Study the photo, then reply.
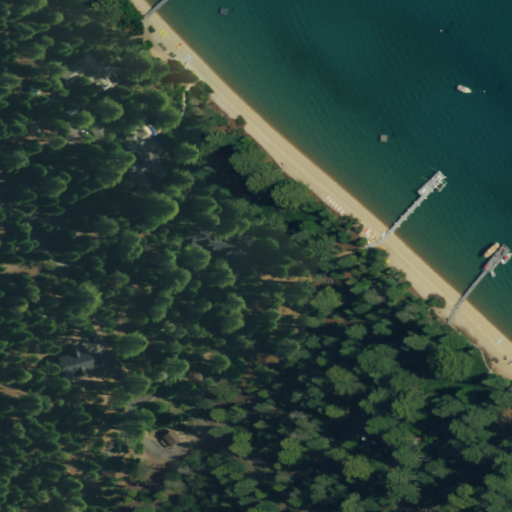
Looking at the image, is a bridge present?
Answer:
No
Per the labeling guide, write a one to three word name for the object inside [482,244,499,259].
boat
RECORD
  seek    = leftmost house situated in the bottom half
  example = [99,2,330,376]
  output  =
[60,350,94,376]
